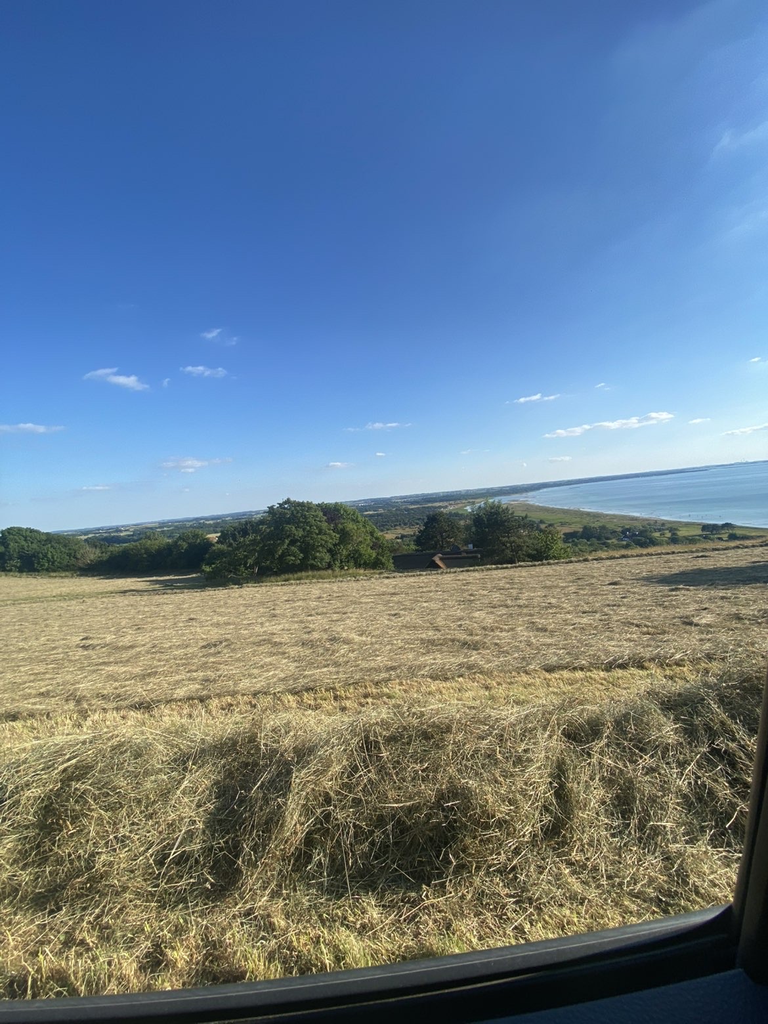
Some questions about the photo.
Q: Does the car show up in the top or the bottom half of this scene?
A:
bottom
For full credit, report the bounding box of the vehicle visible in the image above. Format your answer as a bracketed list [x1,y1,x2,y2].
[0,644,768,1024]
